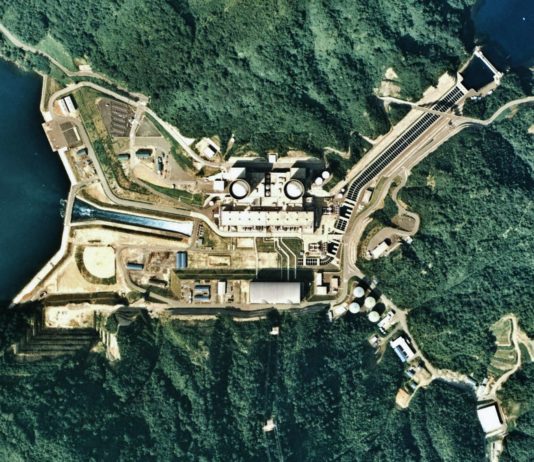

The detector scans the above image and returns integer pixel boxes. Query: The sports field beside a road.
[76,247,116,285]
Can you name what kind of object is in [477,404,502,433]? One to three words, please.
building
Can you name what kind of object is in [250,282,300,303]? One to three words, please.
building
